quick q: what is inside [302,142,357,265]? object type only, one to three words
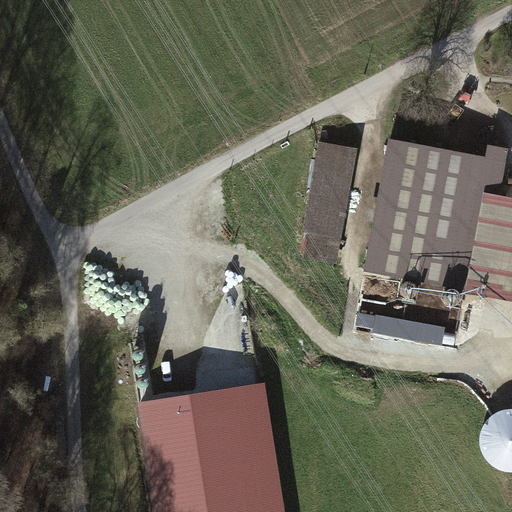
shed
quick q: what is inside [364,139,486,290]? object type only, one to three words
barn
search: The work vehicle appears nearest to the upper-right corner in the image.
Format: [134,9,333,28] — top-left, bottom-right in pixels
[458,76,478,106]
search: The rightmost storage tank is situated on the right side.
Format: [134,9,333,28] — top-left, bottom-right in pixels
[480,410,512,473]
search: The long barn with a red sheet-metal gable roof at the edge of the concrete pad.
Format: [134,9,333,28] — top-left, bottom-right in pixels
[138,384,286,512]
